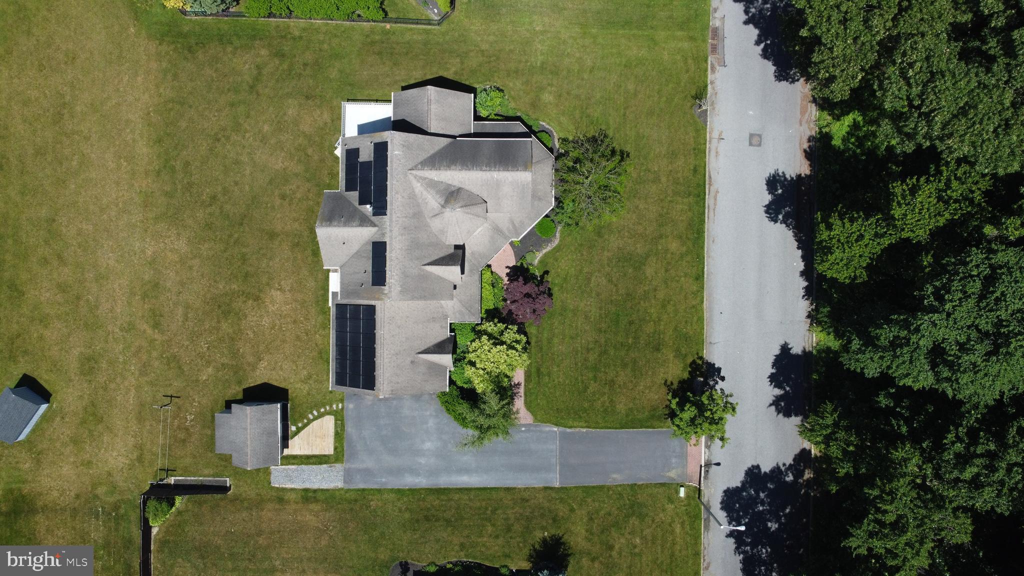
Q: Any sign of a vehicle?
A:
No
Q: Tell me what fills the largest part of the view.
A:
grass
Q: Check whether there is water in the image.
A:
No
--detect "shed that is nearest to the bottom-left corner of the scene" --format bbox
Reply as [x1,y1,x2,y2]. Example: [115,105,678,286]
[0,383,51,444]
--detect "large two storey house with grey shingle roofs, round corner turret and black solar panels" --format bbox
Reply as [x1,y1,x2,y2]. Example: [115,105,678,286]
[316,85,555,397]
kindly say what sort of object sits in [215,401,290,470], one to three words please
shed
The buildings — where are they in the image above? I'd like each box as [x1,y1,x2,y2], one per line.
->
[316,85,555,397]
[0,383,51,444]
[215,401,290,470]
